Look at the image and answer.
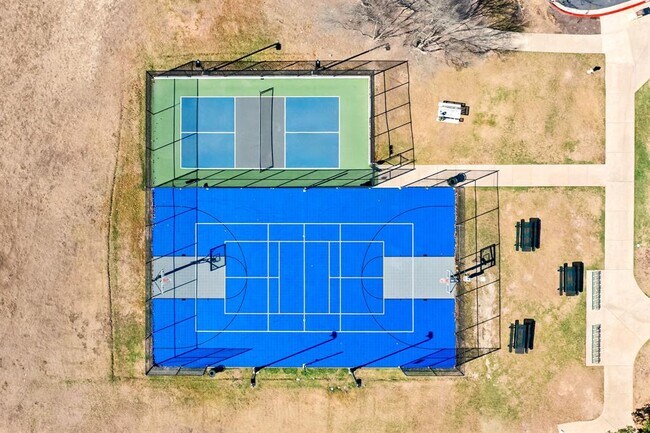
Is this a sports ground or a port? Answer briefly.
sports ground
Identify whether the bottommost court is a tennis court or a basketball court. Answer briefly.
basketball court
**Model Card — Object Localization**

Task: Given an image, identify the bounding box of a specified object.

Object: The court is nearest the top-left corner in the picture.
[152,76,372,187]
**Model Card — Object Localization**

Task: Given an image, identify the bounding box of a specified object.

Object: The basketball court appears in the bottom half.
[152,188,458,368]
